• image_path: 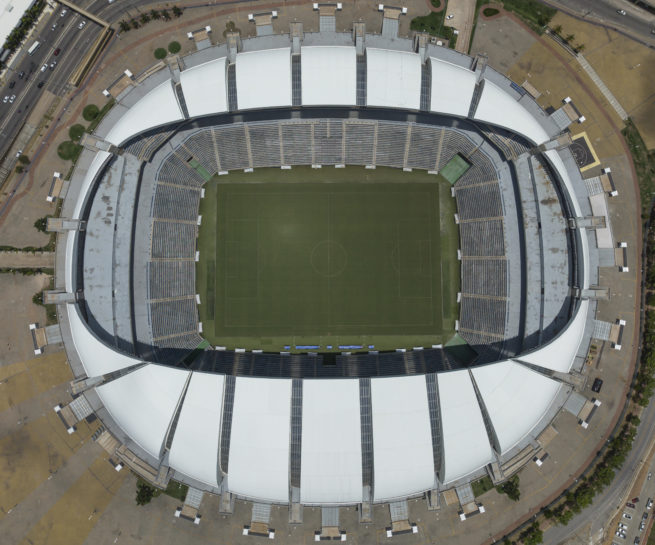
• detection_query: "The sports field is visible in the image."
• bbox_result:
[196,165,461,353]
